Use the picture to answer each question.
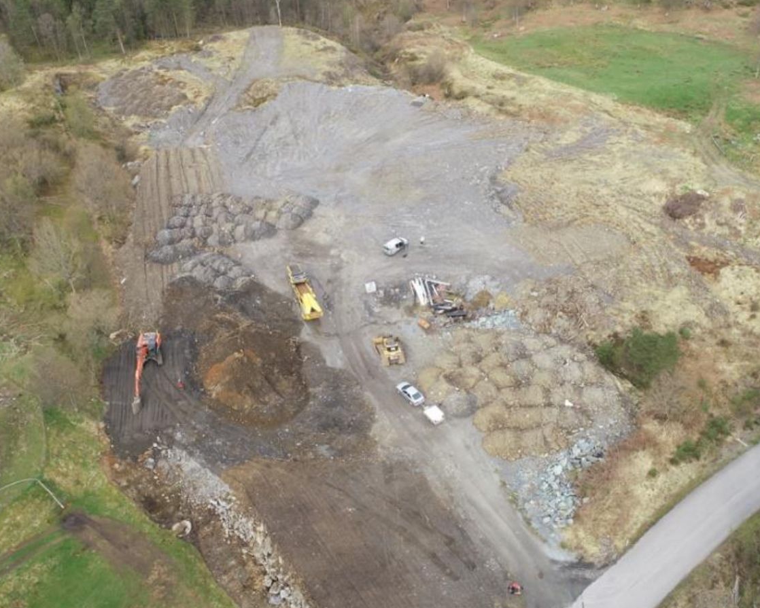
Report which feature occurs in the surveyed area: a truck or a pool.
truck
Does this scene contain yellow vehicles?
Yes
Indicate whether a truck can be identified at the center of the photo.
Yes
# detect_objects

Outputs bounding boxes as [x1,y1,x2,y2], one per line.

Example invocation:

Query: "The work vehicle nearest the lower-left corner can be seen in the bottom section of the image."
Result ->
[135,331,162,416]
